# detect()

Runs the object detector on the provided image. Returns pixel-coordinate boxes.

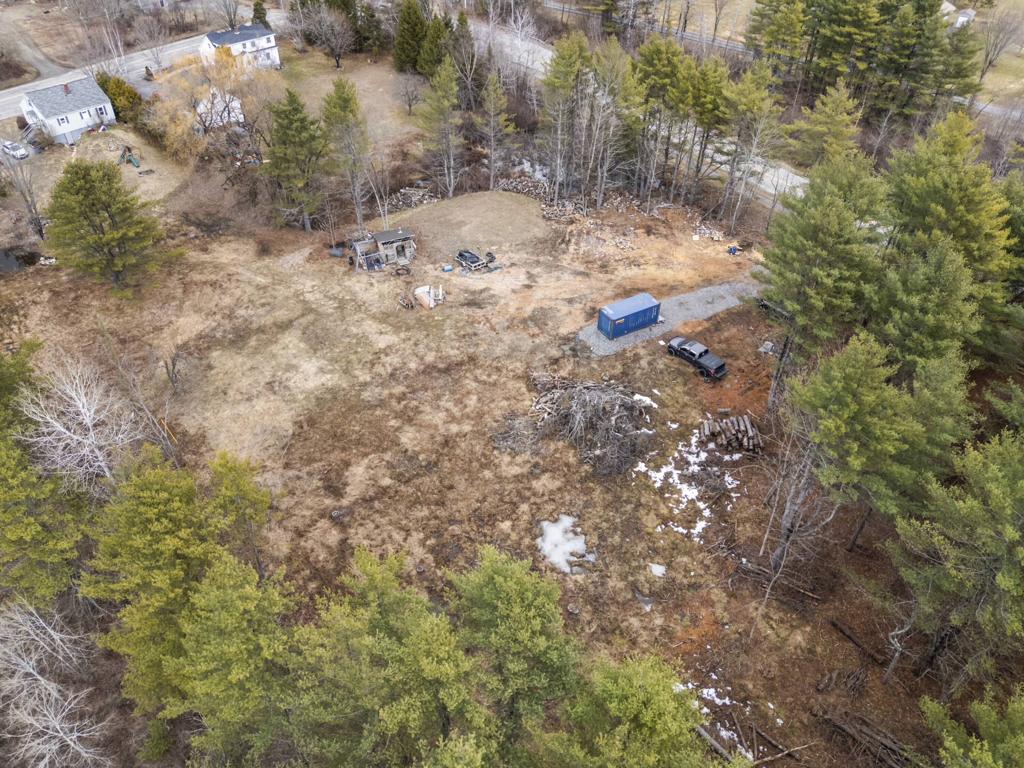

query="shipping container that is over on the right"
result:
[598,294,661,341]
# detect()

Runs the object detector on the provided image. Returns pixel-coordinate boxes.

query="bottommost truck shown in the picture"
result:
[667,335,730,377]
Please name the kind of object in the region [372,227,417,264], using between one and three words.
shed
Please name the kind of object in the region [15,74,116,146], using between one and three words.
house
